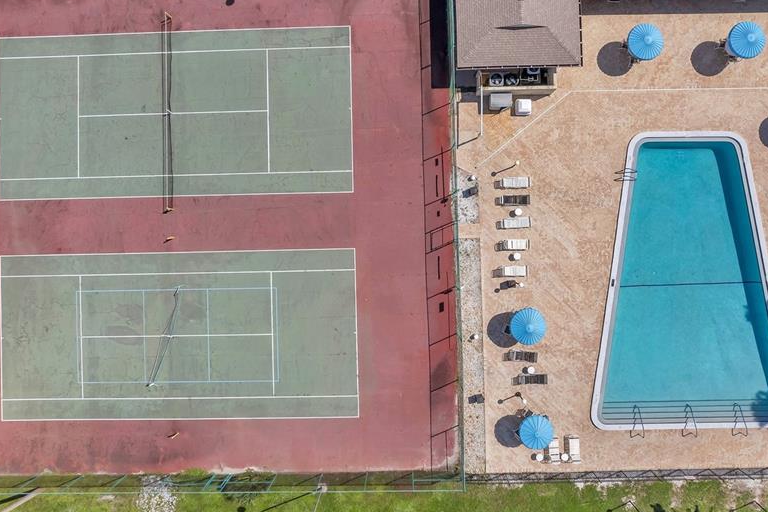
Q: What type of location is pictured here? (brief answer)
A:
sports ground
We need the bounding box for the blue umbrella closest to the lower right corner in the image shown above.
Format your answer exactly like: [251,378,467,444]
[519,416,553,450]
